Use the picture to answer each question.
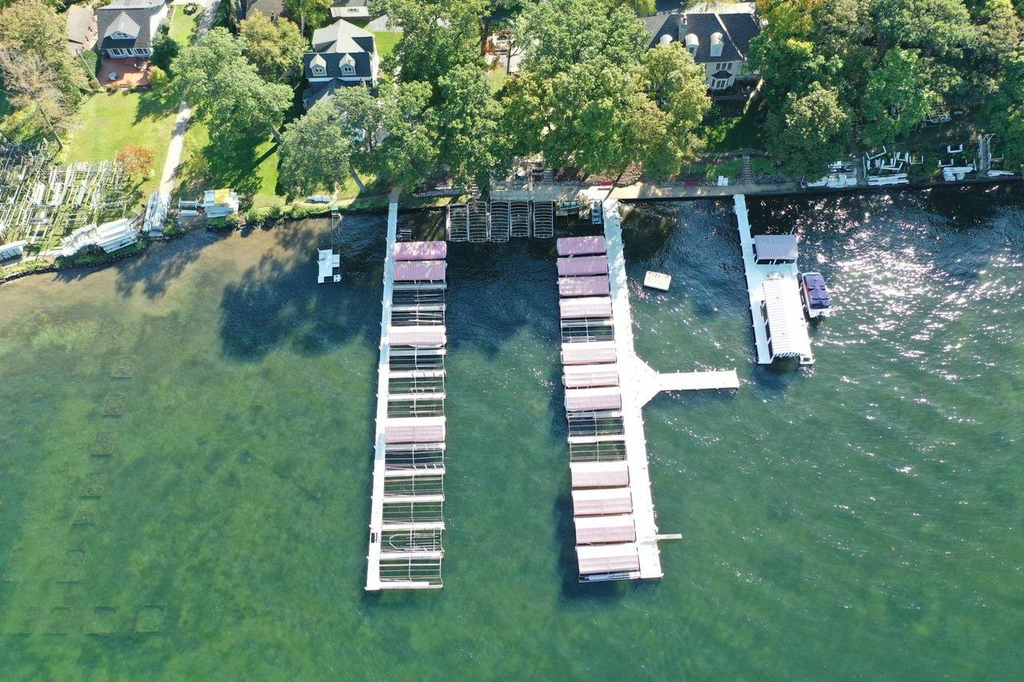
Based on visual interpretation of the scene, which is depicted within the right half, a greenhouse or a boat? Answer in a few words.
boat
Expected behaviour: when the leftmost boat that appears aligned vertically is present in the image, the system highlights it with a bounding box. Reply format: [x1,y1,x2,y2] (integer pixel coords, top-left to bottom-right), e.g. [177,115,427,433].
[590,199,604,227]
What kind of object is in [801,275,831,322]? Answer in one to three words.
boat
